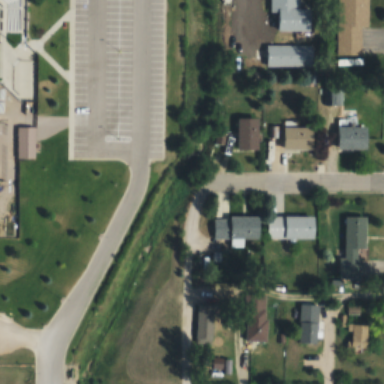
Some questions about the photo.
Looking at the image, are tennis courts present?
No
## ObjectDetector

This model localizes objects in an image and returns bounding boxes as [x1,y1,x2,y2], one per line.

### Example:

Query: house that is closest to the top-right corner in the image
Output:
[338,0,370,56]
